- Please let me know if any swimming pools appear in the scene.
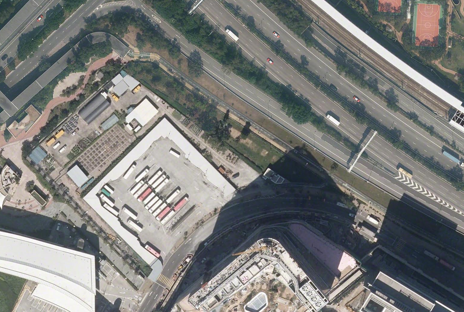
No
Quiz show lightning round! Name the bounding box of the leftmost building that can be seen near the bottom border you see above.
[0,227,96,305]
